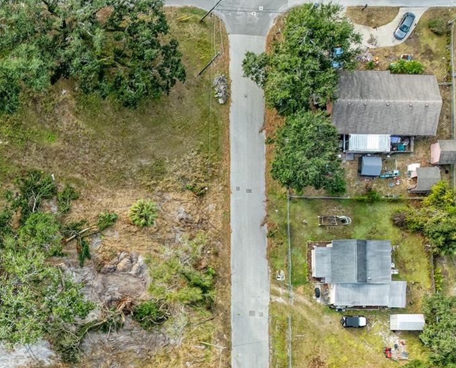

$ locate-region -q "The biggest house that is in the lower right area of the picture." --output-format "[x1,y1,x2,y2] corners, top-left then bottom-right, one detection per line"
[308,240,407,308]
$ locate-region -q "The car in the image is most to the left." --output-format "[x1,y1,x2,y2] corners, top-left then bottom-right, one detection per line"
[344,315,369,328]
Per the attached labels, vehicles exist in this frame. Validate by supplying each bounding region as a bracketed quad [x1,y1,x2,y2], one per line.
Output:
[395,9,422,40]
[344,315,369,328]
